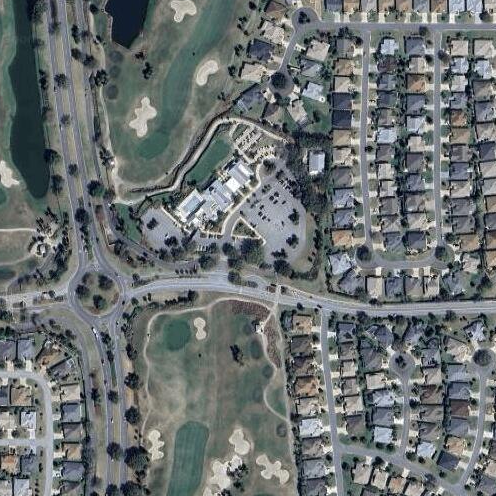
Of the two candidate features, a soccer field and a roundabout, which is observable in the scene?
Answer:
roundabout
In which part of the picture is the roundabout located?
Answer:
left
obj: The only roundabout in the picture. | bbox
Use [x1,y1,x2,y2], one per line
[67,264,126,322]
